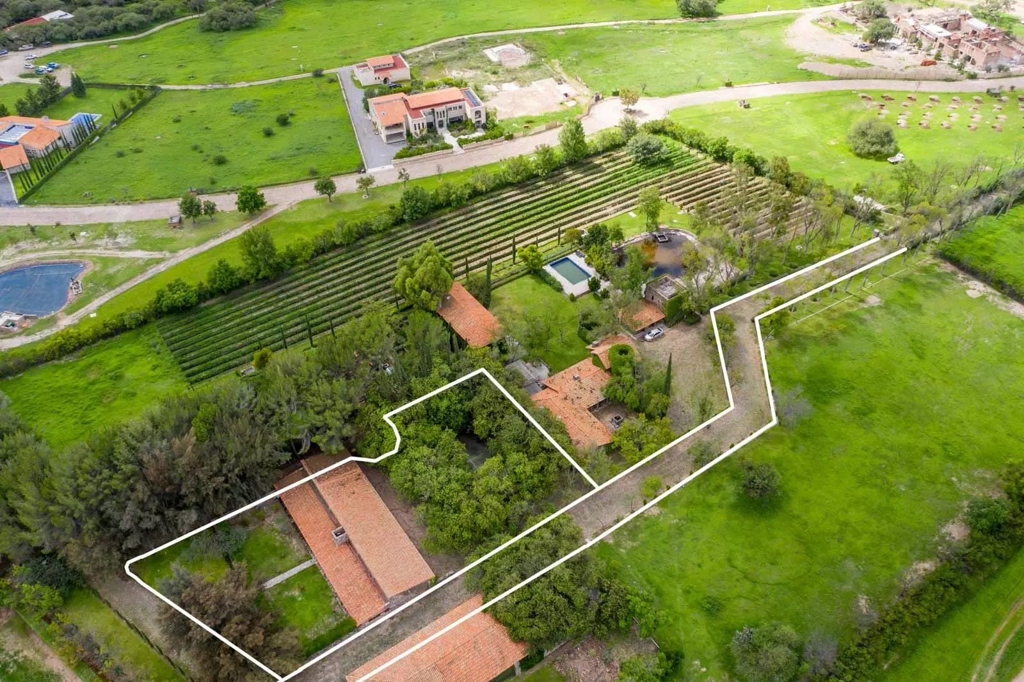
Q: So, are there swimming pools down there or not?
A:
Yes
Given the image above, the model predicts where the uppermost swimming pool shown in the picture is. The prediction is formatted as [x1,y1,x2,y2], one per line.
[71,112,103,125]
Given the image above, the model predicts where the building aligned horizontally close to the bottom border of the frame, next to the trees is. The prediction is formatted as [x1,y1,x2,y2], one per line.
[339,594,525,682]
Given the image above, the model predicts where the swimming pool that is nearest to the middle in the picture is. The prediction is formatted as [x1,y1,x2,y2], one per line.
[539,248,612,294]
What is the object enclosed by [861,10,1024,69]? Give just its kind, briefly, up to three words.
house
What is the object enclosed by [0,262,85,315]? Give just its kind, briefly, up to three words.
pond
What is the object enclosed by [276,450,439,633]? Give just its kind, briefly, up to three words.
house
